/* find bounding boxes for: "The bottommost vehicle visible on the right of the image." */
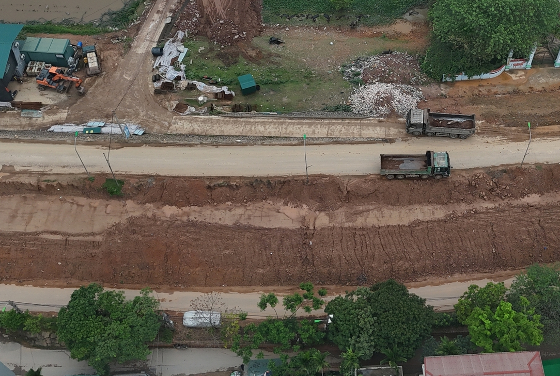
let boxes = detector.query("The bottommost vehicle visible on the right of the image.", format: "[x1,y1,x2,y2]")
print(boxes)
[376,151,453,179]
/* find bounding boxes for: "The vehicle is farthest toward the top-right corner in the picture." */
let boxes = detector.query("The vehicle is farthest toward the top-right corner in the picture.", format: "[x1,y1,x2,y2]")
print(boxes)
[406,109,479,139]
